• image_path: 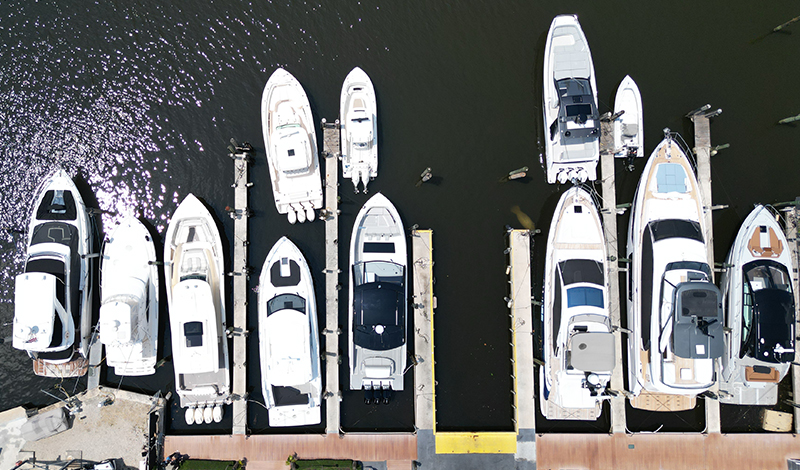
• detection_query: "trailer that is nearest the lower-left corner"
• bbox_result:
[11,450,101,470]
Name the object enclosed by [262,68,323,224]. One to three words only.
boat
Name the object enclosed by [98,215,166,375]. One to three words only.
boat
